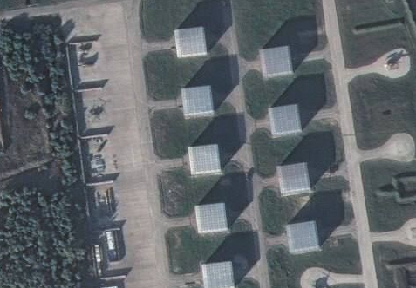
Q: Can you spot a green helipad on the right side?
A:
No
